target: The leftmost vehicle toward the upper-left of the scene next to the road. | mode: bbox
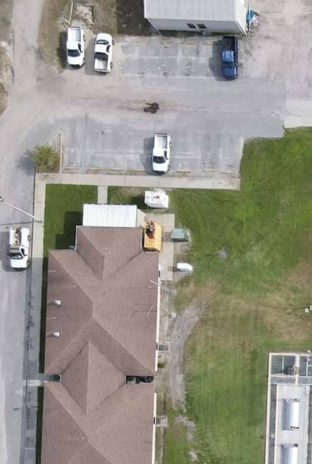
[66,27,85,68]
